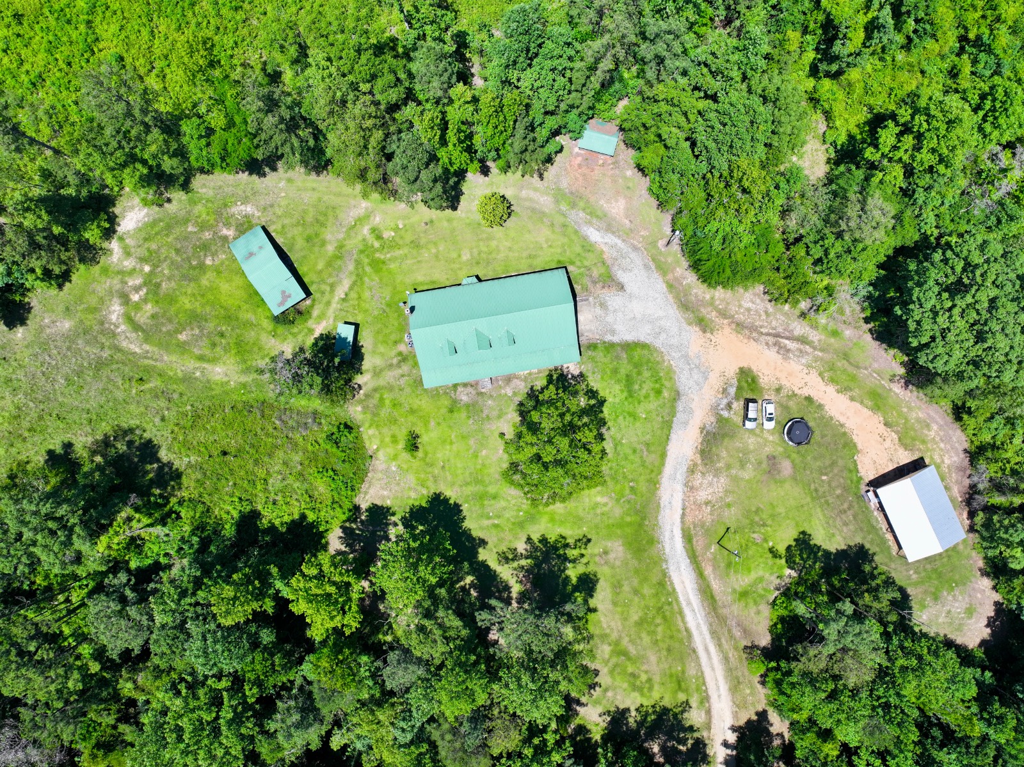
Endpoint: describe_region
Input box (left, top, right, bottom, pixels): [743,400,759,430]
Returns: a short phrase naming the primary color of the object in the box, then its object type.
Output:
white car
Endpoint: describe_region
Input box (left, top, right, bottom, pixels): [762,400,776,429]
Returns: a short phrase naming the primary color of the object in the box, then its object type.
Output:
white car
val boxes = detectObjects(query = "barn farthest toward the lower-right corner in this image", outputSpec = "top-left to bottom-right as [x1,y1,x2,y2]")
[866,463,966,563]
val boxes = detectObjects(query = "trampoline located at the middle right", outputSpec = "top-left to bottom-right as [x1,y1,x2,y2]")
[782,419,816,446]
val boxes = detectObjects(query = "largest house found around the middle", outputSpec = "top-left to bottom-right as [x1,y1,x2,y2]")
[403,266,581,389]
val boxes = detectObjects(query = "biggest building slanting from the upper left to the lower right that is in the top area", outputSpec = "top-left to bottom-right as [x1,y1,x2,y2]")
[229,225,310,316]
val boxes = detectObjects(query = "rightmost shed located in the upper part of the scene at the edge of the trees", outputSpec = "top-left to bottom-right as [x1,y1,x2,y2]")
[580,121,620,159]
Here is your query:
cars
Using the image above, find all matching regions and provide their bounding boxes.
[762,400,776,429]
[743,400,759,430]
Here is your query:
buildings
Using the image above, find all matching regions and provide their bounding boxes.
[336,323,357,360]
[403,266,581,389]
[866,463,966,563]
[229,225,310,316]
[580,121,620,159]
